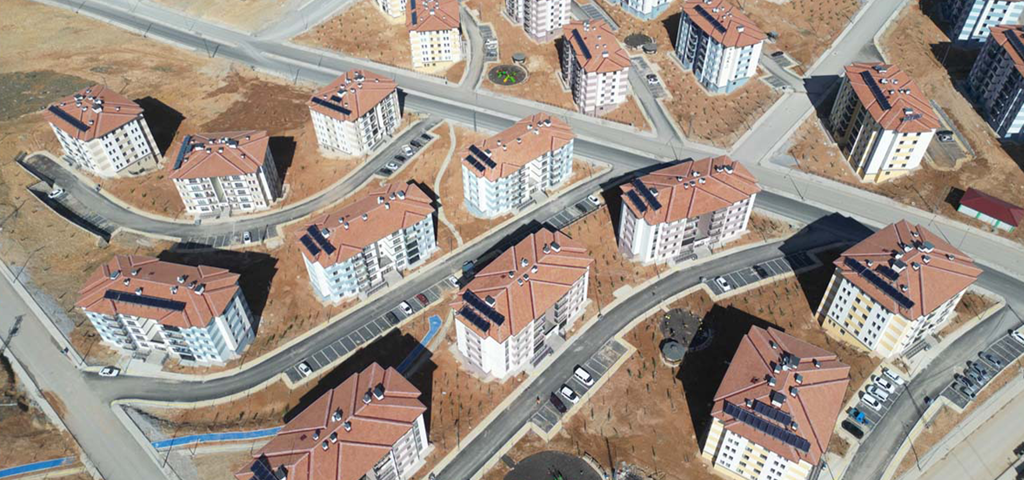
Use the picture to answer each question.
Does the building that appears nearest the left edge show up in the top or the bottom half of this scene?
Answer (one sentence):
You can find the building that appears nearest the left edge in the top half.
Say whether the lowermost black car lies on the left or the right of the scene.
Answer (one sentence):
The lowermost black car appears in the right half of the scene.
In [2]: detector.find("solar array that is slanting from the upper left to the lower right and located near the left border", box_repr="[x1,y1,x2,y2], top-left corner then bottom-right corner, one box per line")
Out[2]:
[48,104,90,132]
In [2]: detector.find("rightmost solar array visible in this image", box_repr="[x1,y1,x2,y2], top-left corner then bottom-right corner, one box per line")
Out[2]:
[1002,30,1024,61]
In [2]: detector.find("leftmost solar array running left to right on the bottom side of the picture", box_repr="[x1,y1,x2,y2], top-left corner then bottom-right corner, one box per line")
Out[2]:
[106,290,186,313]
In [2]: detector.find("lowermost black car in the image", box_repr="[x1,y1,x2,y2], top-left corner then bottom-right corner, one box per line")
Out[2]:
[841,417,865,438]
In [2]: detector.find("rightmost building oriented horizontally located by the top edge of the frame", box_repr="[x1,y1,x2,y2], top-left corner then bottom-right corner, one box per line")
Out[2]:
[914,0,1023,45]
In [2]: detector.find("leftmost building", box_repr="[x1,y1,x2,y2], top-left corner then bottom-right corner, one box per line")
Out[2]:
[41,84,161,177]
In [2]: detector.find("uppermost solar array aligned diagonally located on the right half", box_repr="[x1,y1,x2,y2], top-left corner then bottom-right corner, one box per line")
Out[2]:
[693,4,727,35]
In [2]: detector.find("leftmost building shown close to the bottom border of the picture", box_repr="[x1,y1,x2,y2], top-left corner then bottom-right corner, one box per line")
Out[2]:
[235,363,430,480]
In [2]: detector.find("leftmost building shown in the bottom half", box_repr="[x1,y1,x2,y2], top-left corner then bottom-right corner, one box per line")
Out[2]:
[74,254,255,370]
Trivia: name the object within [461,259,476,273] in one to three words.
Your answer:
vehicle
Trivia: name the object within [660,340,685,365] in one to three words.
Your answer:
gazebo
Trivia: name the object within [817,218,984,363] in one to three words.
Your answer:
building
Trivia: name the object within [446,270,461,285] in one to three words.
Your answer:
car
